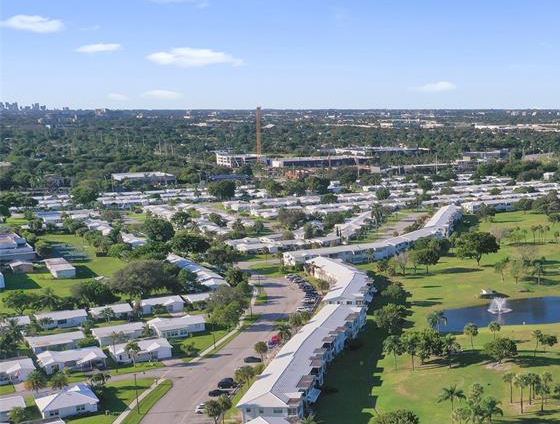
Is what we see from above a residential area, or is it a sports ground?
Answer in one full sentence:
The picture captures a residential area.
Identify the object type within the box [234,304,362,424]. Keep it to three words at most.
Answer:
building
